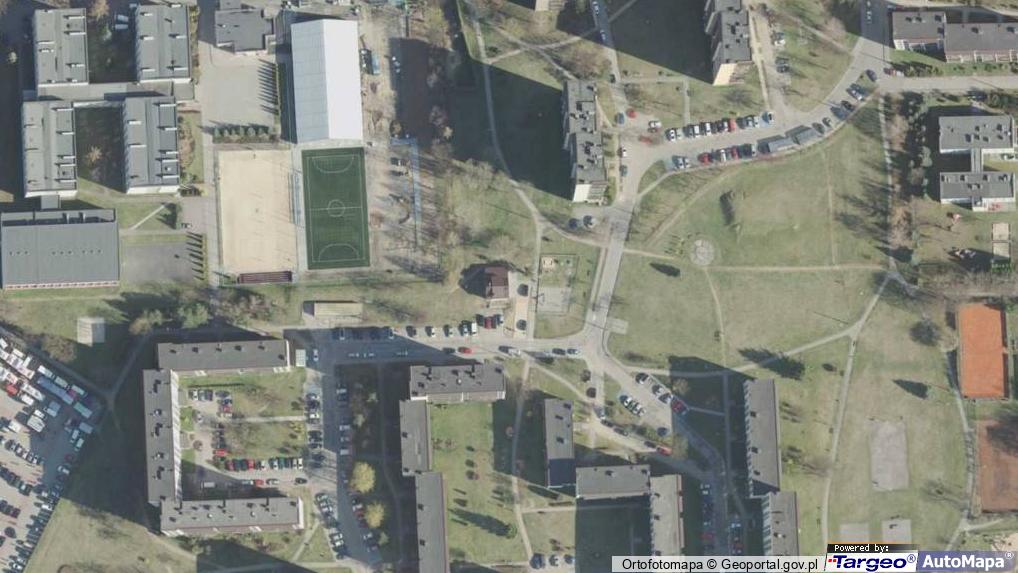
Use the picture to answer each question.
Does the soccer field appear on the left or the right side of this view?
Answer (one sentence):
The soccer field sits on the left side.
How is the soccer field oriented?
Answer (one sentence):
The soccer field is laid out up and down.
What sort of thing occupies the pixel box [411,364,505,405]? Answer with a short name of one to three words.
building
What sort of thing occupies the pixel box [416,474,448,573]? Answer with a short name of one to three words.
building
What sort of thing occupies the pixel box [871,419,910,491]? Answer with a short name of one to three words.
sports court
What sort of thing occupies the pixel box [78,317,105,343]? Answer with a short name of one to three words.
shed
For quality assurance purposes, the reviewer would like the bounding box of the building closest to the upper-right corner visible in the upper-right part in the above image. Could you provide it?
[939,23,1018,61]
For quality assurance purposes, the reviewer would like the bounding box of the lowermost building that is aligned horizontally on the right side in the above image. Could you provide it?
[575,465,650,501]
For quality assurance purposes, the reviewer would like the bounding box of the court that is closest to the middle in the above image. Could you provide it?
[537,286,570,312]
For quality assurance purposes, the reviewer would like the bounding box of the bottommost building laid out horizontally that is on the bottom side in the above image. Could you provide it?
[161,498,304,535]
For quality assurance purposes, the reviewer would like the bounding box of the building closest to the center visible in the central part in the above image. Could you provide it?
[485,266,510,299]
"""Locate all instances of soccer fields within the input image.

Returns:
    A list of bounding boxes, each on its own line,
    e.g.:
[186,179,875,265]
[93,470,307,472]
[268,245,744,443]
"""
[302,147,370,269]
